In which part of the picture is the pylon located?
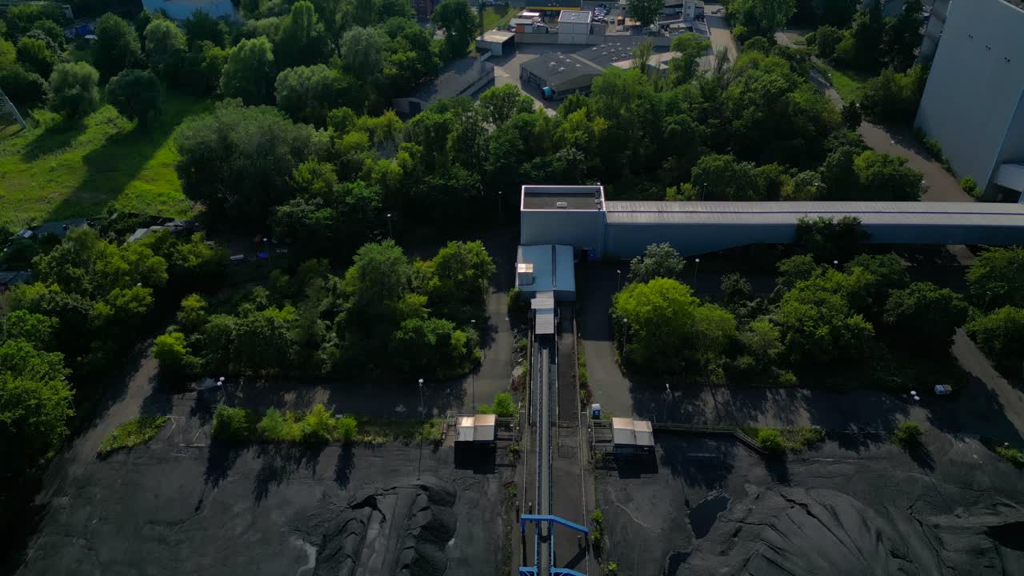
top left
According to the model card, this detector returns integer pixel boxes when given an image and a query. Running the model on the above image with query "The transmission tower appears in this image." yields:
[0,88,26,138]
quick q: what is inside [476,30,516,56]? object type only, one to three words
shed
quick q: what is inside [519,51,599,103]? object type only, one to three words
building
